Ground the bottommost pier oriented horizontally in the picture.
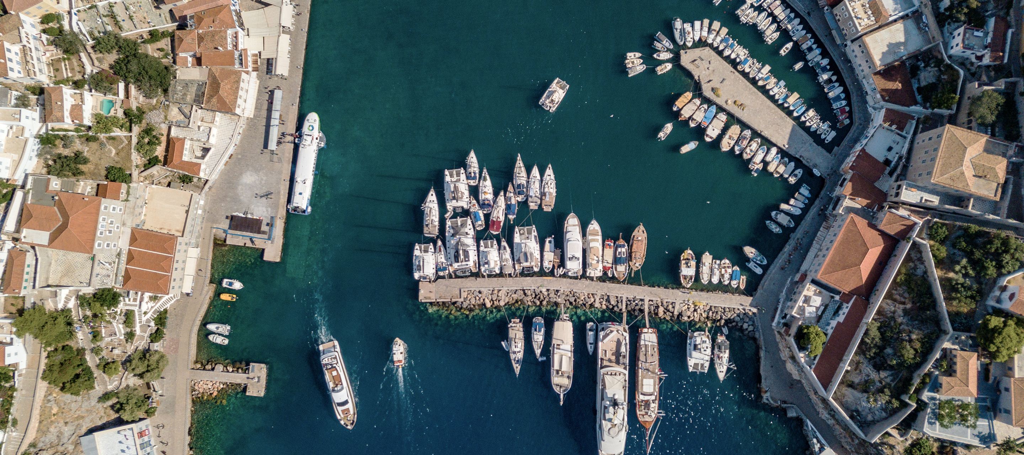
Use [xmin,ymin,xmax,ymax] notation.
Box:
[188,362,268,397]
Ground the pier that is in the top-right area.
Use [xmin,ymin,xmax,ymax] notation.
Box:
[680,47,836,179]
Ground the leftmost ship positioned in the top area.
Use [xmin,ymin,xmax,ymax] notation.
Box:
[287,111,328,216]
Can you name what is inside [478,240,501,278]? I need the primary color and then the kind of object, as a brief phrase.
white boat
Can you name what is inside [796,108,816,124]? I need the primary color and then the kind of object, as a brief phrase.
white boat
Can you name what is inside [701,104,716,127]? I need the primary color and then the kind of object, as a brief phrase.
blue boat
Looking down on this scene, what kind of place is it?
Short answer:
residential area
